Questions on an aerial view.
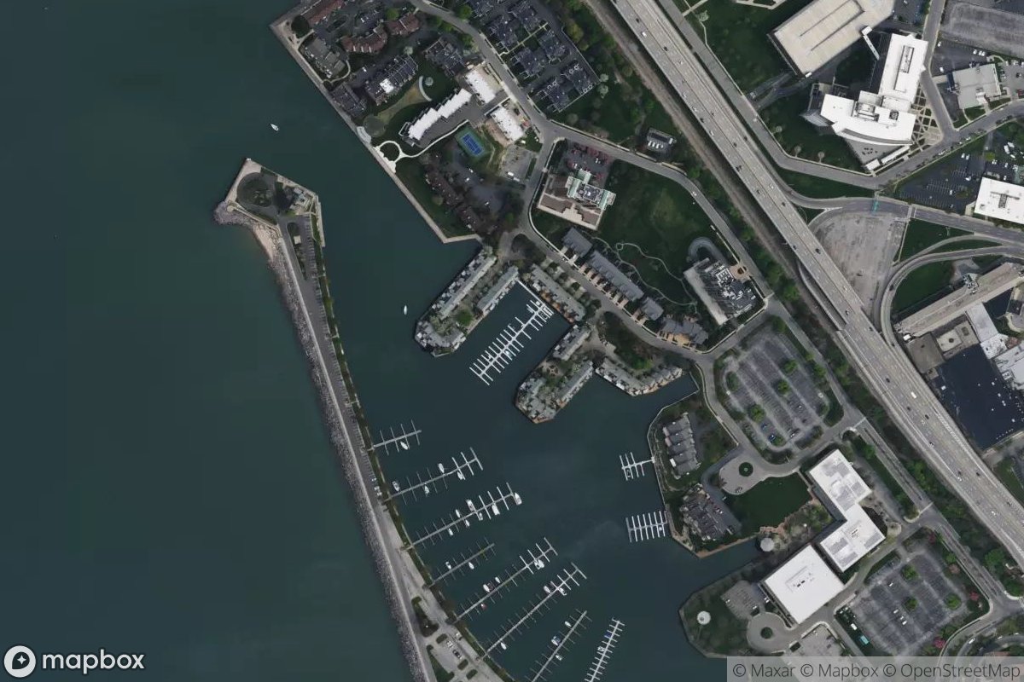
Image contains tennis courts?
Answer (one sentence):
Yes, the image includes a tennis court.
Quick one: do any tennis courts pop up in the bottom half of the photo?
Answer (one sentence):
No, I see no tennis court in the bottom half of the photo.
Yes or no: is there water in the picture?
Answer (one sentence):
Yes, water can be seen from above here.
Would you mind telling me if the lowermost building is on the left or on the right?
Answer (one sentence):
You can find the lowermost building on the right side of the picture.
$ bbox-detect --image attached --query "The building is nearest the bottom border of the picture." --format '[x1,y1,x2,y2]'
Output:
[762,545,844,624]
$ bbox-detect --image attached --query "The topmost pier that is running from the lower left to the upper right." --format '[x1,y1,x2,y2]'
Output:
[470,300,553,386]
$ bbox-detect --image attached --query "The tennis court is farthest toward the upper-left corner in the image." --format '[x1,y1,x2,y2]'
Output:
[455,125,490,160]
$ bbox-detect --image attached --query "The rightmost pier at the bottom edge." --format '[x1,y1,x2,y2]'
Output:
[586,619,625,682]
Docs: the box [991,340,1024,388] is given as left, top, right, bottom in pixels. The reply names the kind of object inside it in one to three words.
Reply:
building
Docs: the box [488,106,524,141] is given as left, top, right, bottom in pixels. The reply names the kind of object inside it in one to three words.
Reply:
building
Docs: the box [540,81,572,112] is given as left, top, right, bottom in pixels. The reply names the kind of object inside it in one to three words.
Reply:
house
